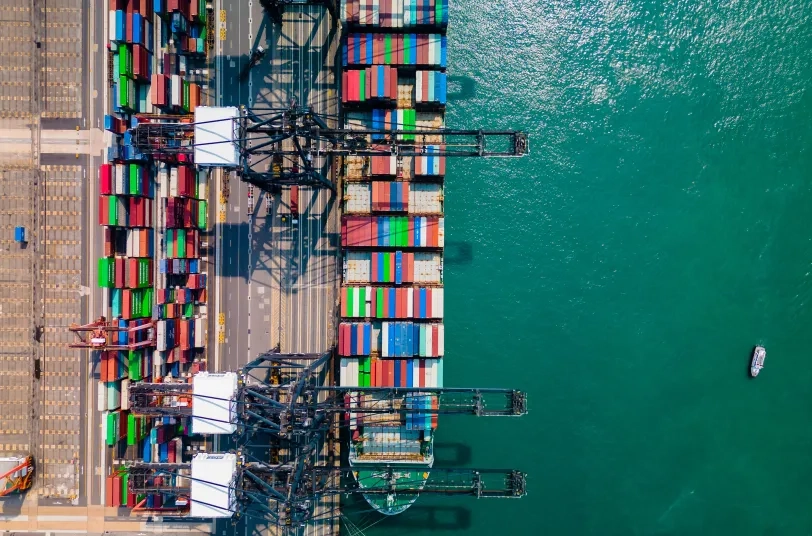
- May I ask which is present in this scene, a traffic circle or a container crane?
container crane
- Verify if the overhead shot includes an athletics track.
No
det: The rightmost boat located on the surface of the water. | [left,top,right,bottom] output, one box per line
[753,346,770,378]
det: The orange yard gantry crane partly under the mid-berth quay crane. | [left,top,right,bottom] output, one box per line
[132,106,195,142]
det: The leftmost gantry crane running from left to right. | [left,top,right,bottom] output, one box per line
[72,318,158,350]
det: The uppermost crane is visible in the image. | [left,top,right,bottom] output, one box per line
[251,0,337,31]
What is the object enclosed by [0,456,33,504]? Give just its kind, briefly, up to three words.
container crane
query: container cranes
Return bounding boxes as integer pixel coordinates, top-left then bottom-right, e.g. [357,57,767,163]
[129,412,527,526]
[130,106,527,196]
[72,318,158,350]
[132,477,195,512]
[0,456,33,504]
[130,345,527,435]
[251,0,337,31]
[132,106,195,142]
